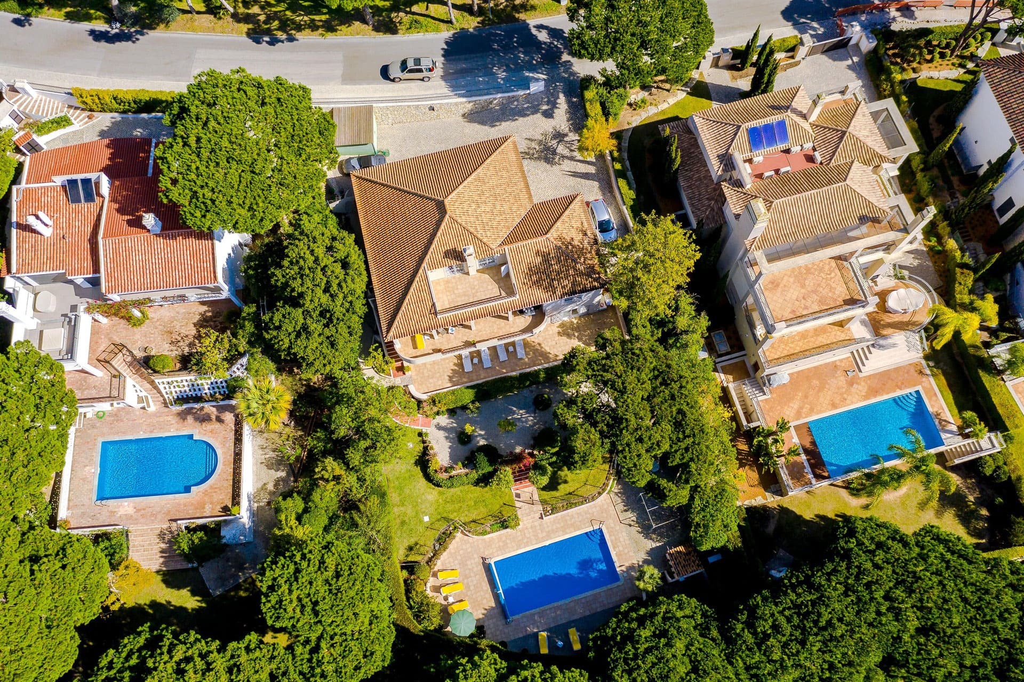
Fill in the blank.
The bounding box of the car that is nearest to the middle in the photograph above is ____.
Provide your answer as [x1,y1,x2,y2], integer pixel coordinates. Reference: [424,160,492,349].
[585,200,616,245]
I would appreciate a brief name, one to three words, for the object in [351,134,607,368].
house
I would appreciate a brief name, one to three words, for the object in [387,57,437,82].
car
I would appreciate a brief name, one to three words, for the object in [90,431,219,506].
swimming pool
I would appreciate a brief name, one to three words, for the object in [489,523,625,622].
swimming pool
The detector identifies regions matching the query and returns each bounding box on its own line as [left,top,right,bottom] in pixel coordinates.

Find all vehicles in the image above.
[585,200,616,245]
[387,57,437,82]
[339,150,387,178]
